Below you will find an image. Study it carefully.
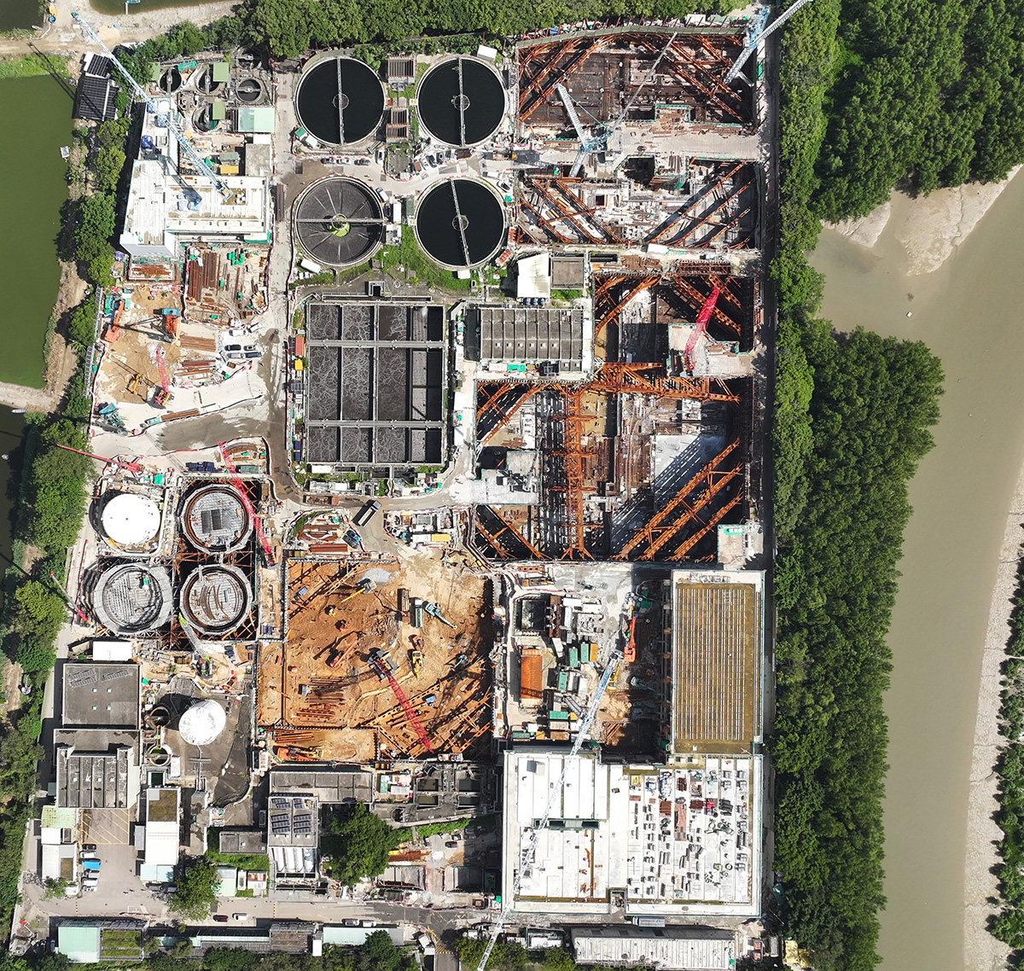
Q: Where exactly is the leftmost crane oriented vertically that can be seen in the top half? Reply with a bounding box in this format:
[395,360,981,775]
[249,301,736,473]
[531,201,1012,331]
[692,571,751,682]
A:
[151,344,171,409]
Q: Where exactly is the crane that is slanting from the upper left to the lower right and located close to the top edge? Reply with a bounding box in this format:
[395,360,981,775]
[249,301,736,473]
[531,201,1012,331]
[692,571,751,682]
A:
[73,12,232,206]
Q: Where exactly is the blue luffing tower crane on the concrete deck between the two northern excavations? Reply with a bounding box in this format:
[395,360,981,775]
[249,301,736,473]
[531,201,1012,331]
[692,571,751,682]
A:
[554,29,679,180]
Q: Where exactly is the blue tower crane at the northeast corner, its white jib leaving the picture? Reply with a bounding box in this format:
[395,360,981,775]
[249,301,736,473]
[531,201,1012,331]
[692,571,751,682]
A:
[720,0,820,86]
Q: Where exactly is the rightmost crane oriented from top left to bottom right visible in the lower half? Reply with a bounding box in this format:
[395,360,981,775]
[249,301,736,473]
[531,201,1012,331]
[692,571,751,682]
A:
[367,649,436,753]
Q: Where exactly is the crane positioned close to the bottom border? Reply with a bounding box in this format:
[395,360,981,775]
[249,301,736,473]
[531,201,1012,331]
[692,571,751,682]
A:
[470,638,632,971]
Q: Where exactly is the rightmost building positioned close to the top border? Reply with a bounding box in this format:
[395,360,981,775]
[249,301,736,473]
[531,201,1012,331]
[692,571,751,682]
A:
[476,45,498,65]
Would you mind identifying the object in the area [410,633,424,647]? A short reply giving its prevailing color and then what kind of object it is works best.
red work vehicle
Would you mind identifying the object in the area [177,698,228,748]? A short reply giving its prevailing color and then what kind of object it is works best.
white storage tank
